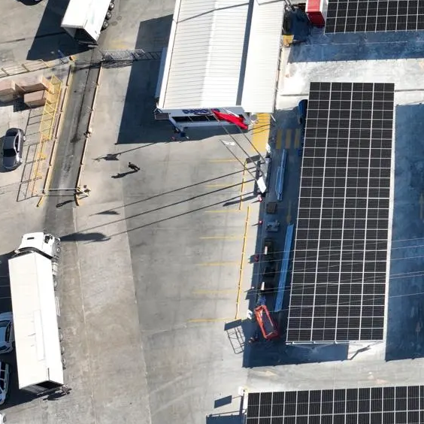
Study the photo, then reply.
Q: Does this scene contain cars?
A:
Yes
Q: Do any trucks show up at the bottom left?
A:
Yes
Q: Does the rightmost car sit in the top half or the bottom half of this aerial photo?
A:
top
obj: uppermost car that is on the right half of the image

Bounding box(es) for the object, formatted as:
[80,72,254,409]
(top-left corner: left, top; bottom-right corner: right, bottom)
[291,99,311,132]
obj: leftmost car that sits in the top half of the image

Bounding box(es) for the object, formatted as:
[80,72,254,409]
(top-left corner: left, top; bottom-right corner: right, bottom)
[0,129,27,169]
